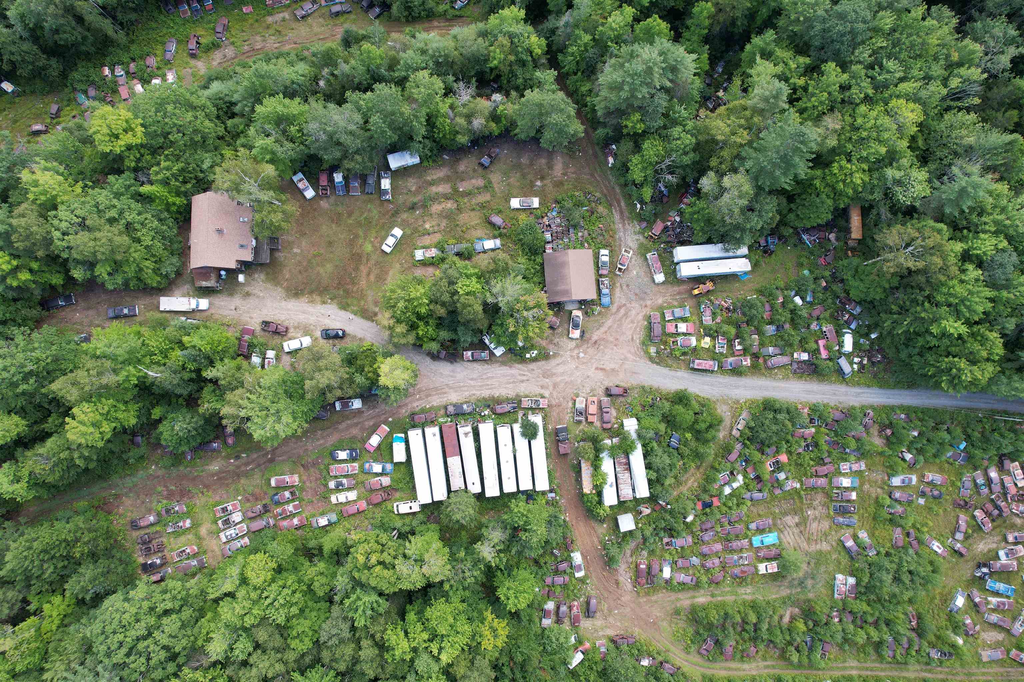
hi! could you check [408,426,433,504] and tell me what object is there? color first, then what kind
white trailer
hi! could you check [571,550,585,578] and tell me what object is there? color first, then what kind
white car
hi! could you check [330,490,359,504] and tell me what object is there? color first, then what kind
white car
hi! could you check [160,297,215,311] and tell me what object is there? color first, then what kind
white vehicle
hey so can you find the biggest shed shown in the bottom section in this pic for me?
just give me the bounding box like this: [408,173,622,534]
[615,510,637,532]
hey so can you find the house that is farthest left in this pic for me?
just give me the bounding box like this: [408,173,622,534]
[190,192,280,293]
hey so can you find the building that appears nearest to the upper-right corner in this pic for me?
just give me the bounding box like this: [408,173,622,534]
[543,249,596,303]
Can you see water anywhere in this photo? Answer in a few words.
No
